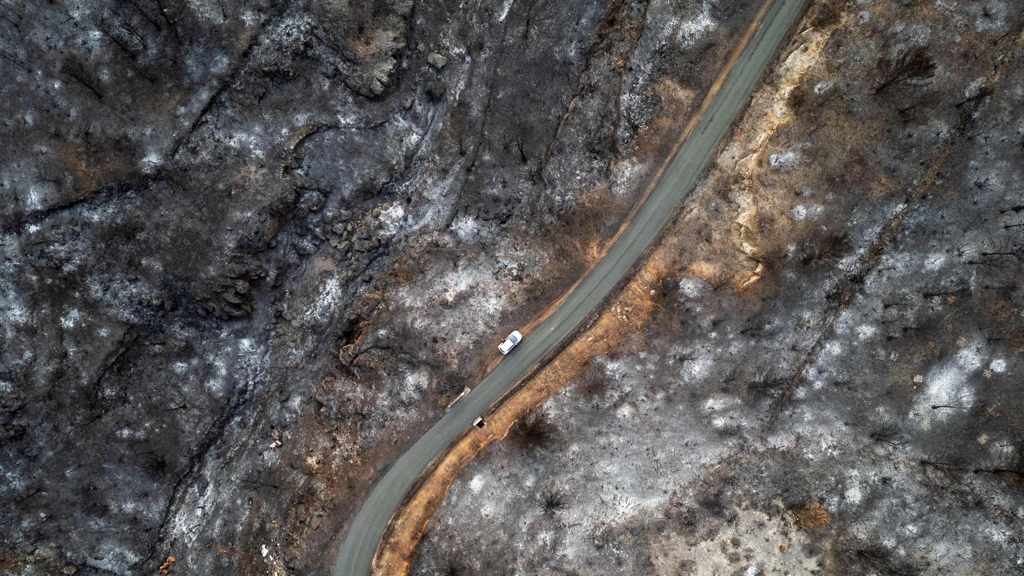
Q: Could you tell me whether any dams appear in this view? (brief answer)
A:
No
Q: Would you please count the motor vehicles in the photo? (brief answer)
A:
one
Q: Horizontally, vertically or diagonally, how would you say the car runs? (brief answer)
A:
diagonally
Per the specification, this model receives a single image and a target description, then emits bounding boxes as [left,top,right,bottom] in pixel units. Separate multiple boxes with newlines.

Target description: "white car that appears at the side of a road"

[499,332,522,355]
